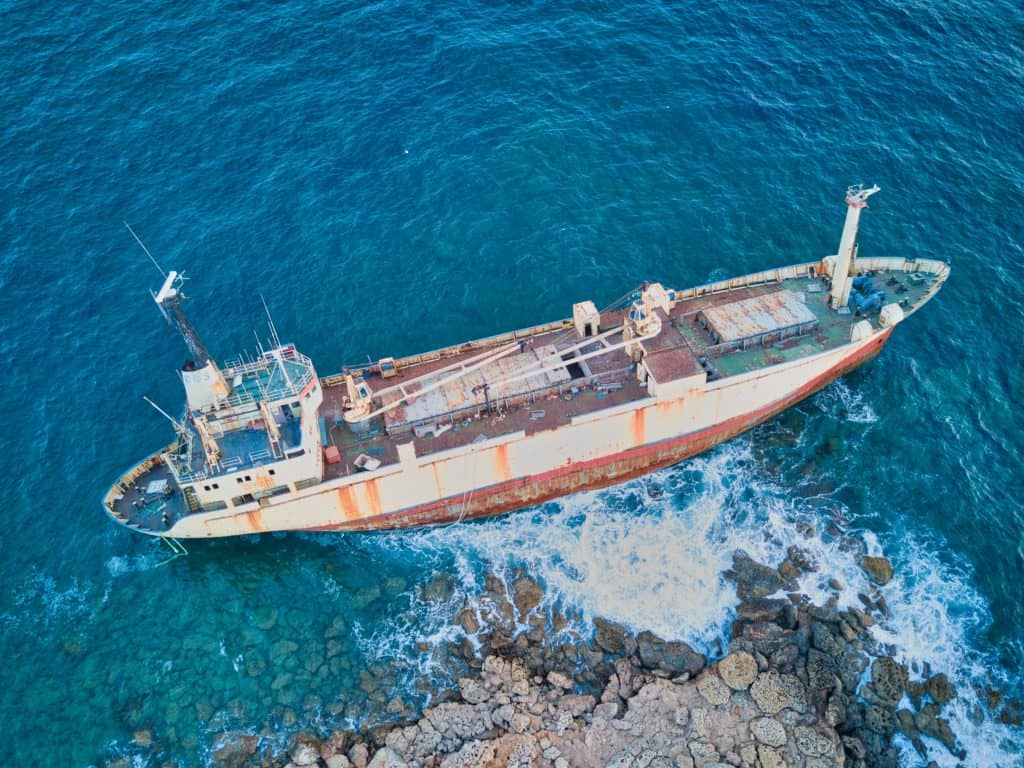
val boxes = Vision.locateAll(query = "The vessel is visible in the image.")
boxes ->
[102,182,951,571]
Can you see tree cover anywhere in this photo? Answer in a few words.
No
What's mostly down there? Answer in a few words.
water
